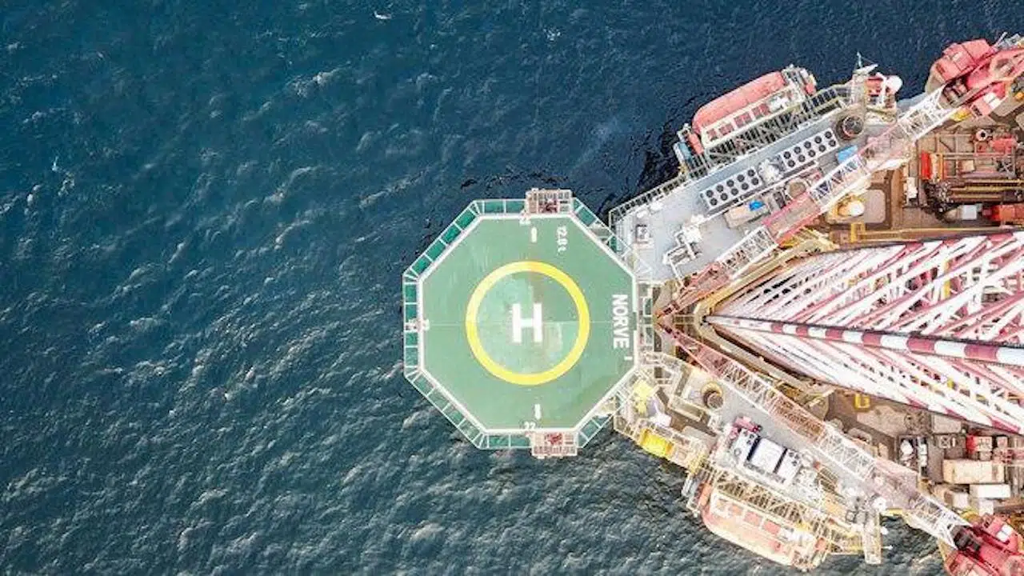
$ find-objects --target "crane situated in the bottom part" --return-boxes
[658,317,1024,576]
